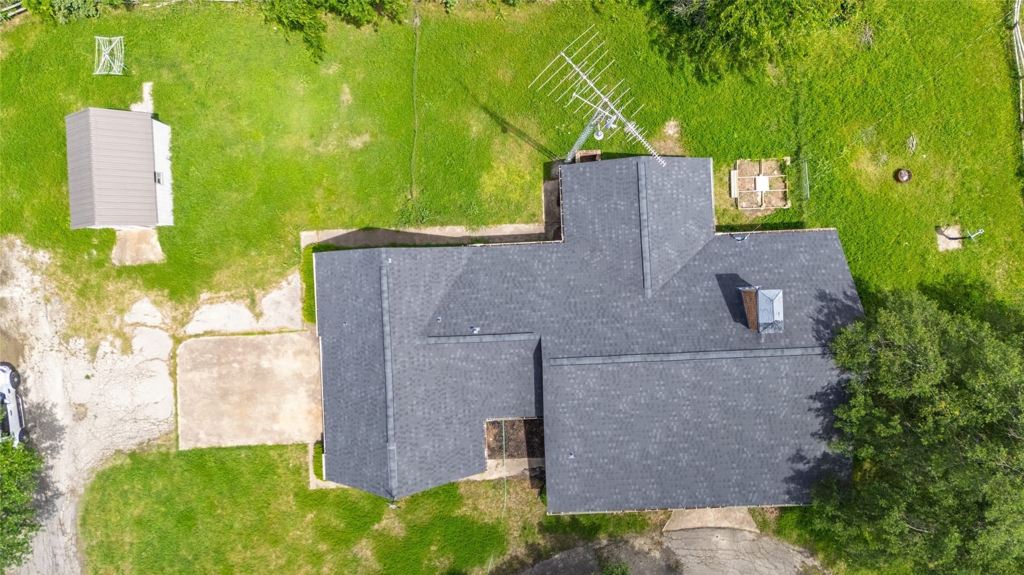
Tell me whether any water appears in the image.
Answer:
No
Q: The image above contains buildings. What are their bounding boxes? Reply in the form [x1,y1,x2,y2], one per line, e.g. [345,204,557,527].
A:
[312,155,873,517]
[64,107,176,231]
